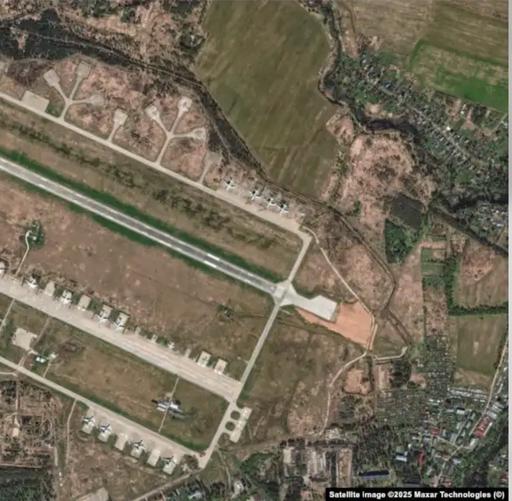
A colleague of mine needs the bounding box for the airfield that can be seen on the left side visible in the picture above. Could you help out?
[0,62,336,501]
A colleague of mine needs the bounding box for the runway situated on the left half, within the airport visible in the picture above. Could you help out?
[0,157,276,294]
